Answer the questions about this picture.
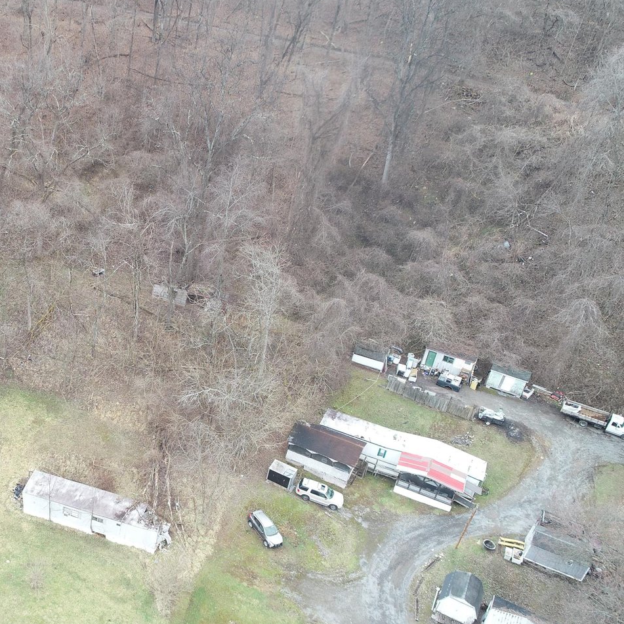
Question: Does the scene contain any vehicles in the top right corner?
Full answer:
No, I can find no vehicle in the top right corner.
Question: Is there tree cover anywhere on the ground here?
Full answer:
Yes, there is tree cover in the image.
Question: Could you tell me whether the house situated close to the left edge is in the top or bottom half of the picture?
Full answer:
The bottom half of the photo is where the house situated close to the left edge is.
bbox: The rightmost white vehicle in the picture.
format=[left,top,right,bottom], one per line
[563,400,624,441]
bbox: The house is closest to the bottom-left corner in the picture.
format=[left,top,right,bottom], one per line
[22,468,175,549]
